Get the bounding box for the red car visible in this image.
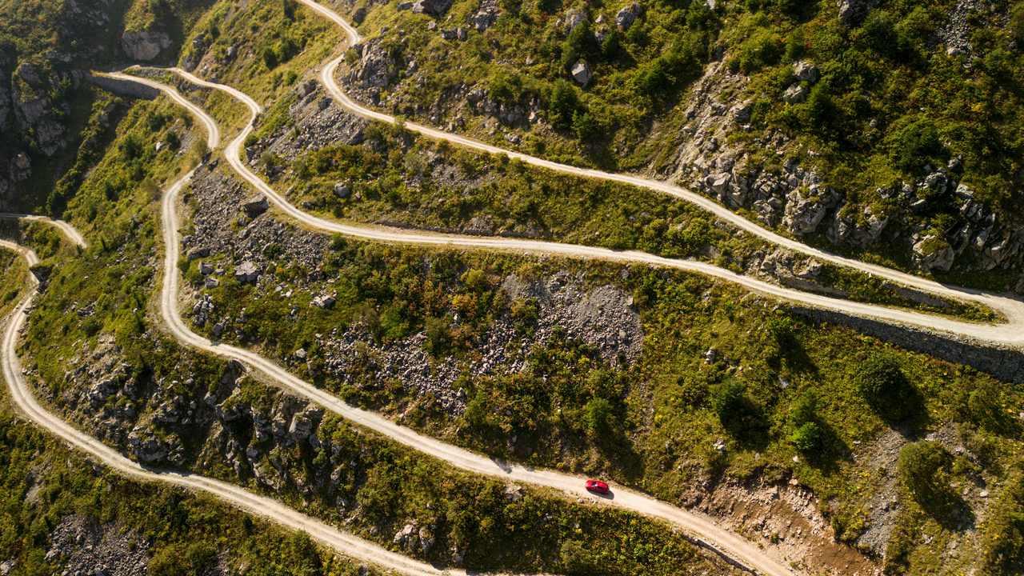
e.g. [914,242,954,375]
[587,479,611,494]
